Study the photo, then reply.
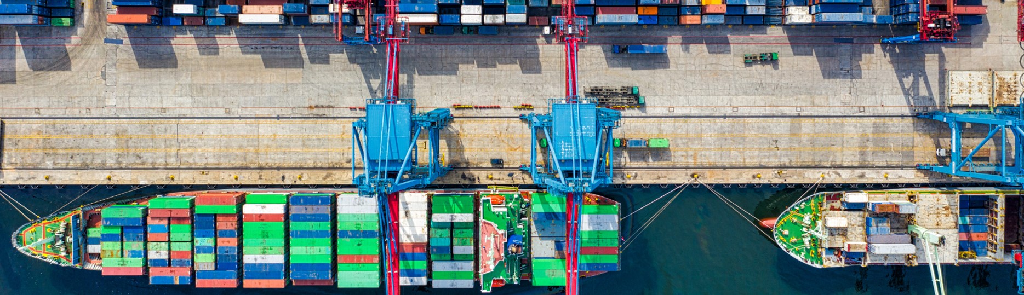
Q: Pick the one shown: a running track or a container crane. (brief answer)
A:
container crane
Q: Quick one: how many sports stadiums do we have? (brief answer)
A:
zero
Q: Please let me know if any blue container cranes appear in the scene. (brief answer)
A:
Yes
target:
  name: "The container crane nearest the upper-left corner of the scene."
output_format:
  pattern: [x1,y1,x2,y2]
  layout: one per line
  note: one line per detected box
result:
[335,0,386,43]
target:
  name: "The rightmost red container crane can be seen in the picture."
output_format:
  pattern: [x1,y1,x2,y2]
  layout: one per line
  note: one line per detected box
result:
[882,0,957,42]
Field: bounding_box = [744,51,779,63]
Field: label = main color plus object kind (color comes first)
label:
green vehicle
